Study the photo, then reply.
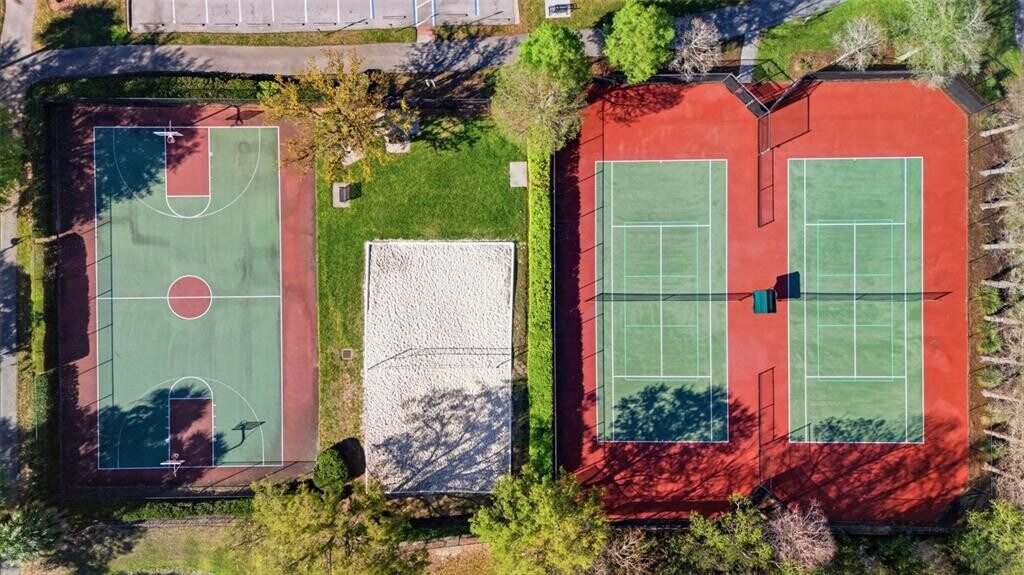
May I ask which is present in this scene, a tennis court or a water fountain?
tennis court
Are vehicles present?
No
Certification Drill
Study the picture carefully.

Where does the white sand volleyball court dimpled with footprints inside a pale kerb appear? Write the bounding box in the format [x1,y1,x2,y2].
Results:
[364,240,516,495]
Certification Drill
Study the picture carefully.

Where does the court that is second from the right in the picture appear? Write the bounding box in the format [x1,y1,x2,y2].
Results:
[555,82,761,523]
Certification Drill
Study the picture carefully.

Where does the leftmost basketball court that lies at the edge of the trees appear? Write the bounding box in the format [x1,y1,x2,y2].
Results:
[59,105,319,488]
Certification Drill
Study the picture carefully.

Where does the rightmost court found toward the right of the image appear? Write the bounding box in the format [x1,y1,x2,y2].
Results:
[758,80,970,523]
